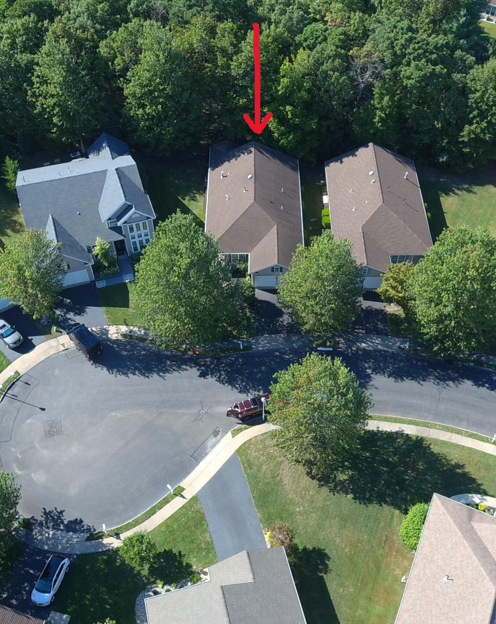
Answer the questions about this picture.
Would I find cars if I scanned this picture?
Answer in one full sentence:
Yes, looking at the shot, I can spot a car.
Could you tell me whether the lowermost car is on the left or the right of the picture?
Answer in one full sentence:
It is on the left.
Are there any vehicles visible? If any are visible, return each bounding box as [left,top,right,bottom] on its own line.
[31,552,69,606]
[0,317,22,348]
[66,324,100,359]
[232,395,277,422]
